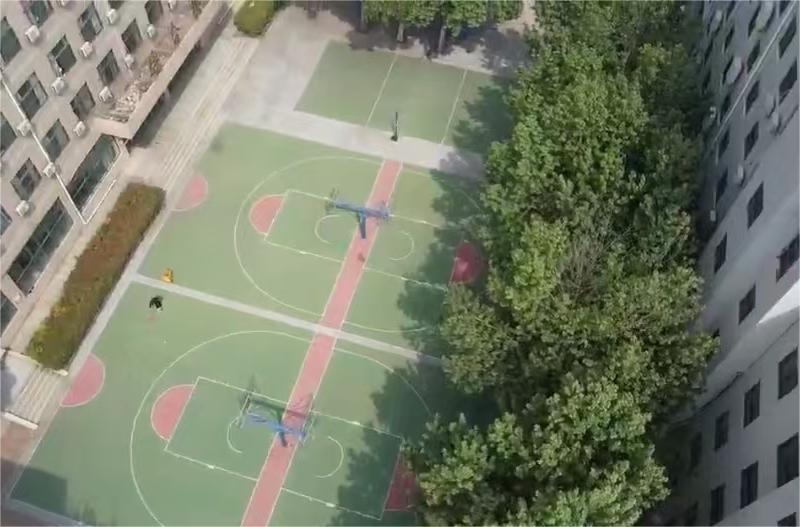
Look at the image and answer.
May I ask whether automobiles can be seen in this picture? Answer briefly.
No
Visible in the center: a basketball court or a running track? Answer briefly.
basketball court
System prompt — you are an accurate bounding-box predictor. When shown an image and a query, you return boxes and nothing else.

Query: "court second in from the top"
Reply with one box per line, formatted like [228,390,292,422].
[138,121,542,361]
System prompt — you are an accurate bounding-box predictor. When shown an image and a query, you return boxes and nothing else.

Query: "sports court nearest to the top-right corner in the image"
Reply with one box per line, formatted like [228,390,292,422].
[295,39,565,169]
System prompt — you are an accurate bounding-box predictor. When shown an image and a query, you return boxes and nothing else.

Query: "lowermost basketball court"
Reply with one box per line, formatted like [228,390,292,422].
[10,281,498,527]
